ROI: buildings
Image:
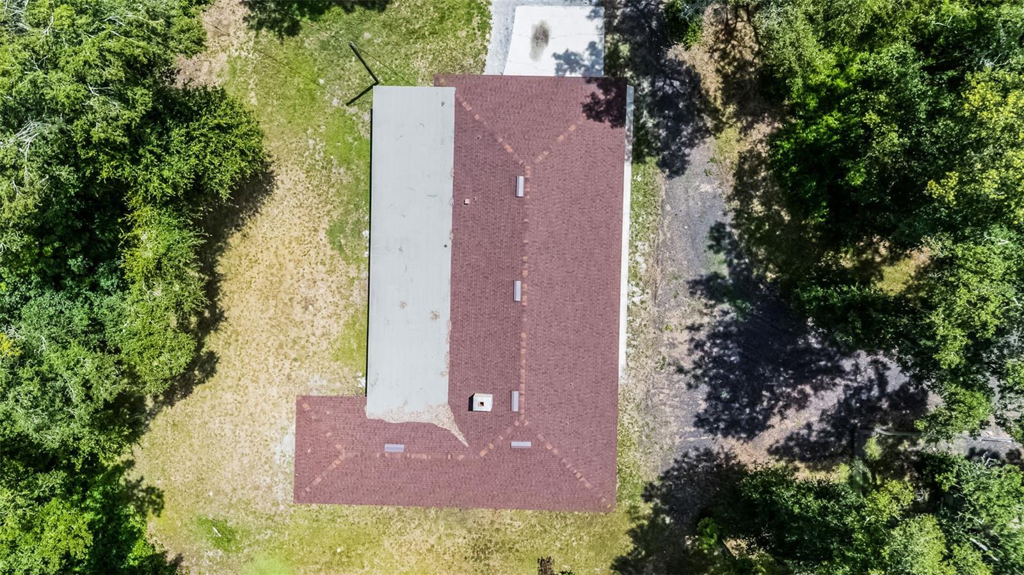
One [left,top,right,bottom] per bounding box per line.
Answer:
[292,72,627,513]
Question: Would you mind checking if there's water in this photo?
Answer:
No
